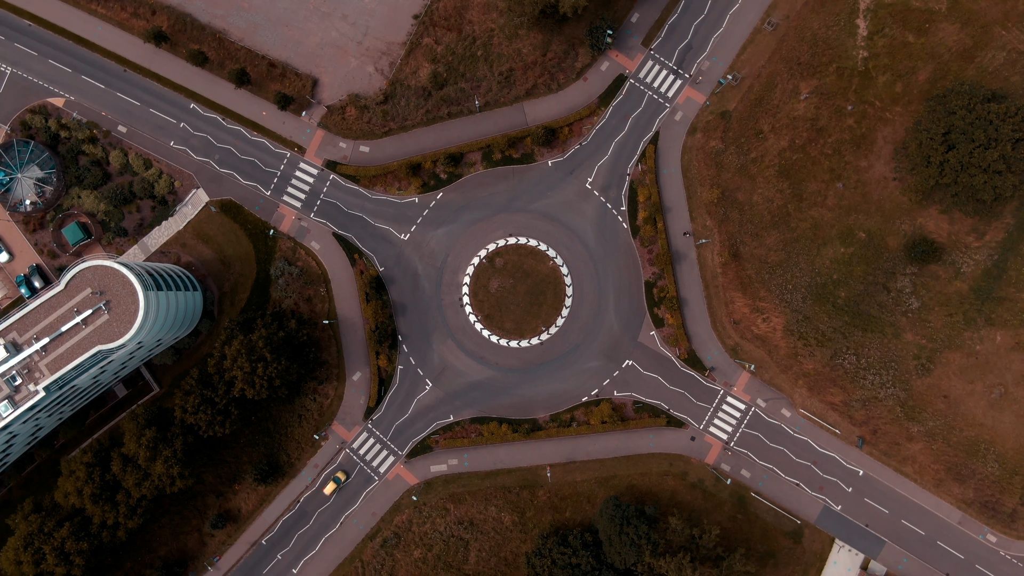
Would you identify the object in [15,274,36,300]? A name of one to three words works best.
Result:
car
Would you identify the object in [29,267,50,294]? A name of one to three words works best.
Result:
car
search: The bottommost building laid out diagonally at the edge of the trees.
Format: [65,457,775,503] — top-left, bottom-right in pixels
[0,253,203,473]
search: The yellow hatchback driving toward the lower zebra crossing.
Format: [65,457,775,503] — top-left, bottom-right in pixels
[322,469,348,497]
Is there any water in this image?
No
